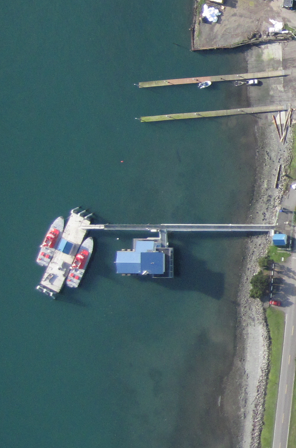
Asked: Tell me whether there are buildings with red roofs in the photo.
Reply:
No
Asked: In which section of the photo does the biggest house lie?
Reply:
center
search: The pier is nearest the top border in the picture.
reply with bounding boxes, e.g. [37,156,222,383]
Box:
[134,70,286,88]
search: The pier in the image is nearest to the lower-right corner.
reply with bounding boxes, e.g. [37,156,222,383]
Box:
[149,224,275,248]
